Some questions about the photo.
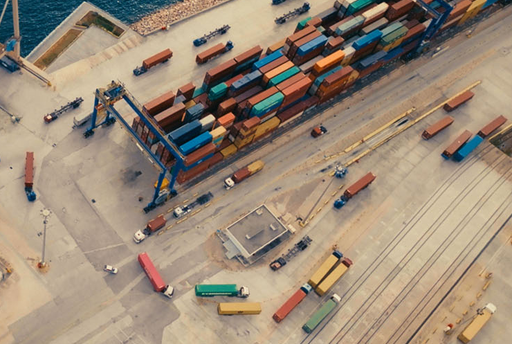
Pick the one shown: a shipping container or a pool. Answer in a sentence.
Visible in the photo is a shipping container.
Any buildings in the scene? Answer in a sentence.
Yes, there's a building down there.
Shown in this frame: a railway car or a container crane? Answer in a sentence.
The one in the frame is a container crane.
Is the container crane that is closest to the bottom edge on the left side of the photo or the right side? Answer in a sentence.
The container crane that is closest to the bottom edge sits on the left side.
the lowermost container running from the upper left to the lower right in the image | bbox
[137,249,170,289]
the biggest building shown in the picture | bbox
[219,204,292,266]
